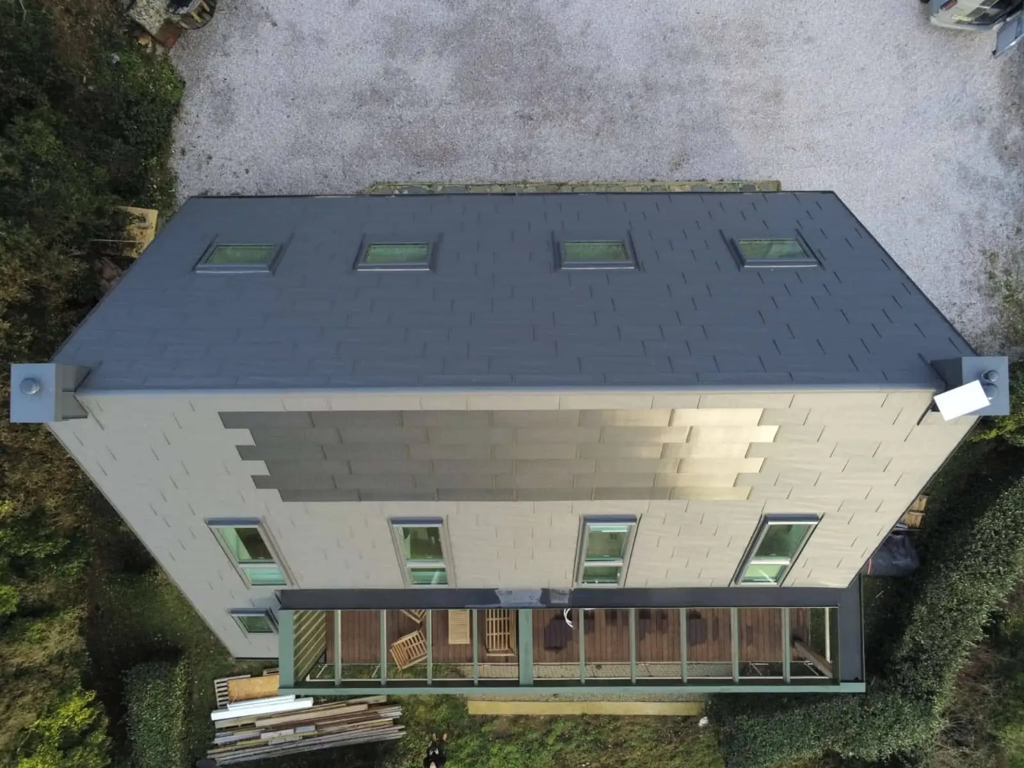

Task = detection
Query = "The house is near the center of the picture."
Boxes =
[11,191,1008,660]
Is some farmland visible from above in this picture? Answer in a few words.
No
